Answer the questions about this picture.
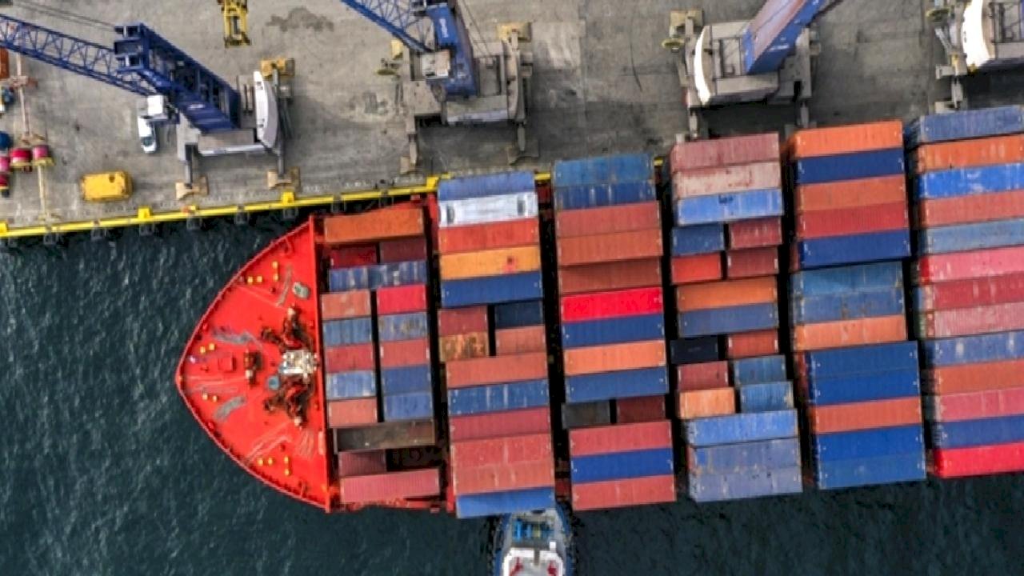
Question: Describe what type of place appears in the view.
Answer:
port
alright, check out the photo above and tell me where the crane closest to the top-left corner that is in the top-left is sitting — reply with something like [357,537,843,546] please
[0,0,298,196]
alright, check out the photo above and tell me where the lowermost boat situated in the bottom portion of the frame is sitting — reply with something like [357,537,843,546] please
[491,504,576,576]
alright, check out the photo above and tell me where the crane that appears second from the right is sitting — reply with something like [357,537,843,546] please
[662,0,858,144]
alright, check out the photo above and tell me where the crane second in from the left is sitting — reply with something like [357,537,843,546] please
[341,0,536,172]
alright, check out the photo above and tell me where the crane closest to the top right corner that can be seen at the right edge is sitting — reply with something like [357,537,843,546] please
[926,0,1024,112]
